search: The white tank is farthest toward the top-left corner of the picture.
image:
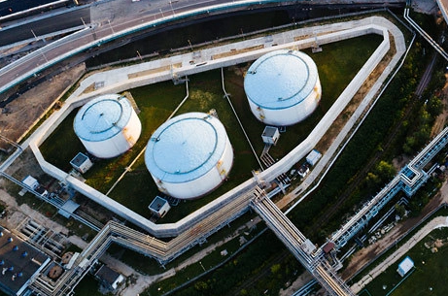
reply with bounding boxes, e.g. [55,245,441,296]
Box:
[74,95,145,160]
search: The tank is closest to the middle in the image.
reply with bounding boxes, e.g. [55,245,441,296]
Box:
[146,115,237,205]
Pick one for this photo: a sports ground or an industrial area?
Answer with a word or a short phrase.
industrial area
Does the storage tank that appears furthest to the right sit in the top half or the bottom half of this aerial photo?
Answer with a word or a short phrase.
top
